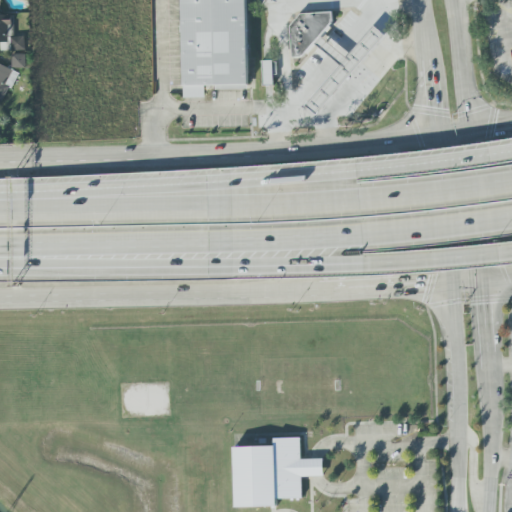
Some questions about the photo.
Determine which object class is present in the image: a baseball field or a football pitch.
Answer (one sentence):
The one in the frame is a football pitch.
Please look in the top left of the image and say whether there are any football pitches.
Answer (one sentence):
No, I see no football pitch in the top left of the image.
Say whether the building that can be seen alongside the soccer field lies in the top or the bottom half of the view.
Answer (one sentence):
The building that can be seen alongside the soccer field is in the bottom half of the image.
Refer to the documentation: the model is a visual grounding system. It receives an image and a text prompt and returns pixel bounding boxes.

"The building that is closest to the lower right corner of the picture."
[232,437,324,508]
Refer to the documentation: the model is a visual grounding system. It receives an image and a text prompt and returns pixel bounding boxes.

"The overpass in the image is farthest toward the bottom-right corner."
[365,242,512,274]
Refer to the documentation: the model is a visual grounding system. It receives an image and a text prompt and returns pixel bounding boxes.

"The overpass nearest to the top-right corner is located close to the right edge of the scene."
[356,138,512,178]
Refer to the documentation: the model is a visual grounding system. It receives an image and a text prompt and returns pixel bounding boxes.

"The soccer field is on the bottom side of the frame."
[261,357,352,416]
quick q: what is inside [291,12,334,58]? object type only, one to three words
building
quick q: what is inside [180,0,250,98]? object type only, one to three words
building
